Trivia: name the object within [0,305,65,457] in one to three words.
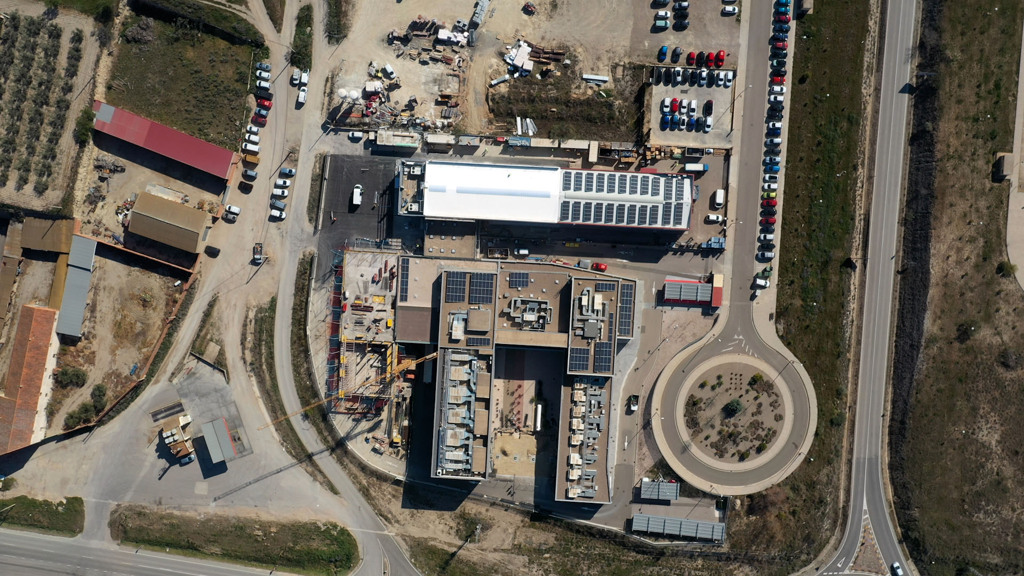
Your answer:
building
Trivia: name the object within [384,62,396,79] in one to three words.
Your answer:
vehicle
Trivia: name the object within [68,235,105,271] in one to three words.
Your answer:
shed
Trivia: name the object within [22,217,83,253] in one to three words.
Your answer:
shed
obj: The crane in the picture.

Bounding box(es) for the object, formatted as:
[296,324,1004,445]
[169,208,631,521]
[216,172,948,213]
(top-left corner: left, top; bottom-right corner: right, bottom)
[259,350,440,429]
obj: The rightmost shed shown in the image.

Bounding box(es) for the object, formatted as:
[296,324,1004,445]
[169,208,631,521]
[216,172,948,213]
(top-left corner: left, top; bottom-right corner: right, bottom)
[995,154,1012,178]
